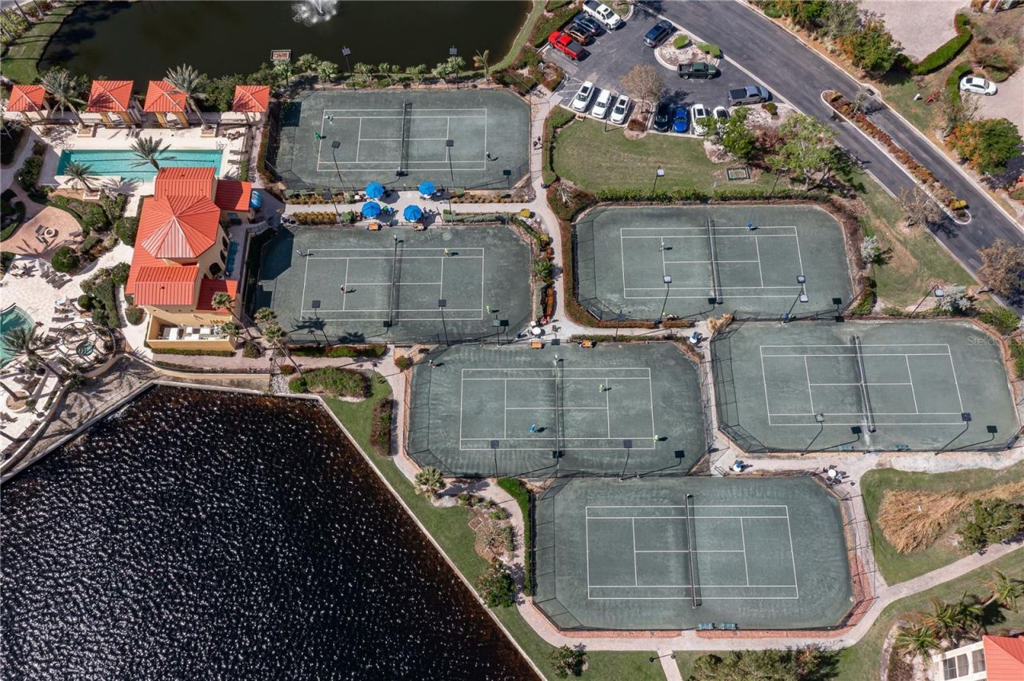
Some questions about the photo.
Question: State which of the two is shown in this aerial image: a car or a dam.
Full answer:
Looking from above, you can make out a car.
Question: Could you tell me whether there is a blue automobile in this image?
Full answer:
Yes, there's a blue automobile down there.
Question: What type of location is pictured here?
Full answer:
The picture captures a sports ground.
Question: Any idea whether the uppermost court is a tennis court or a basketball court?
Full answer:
The uppermost court is a tennis court.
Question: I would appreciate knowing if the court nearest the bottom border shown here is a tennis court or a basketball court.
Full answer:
The court nearest the bottom border can be classified as a tennis court.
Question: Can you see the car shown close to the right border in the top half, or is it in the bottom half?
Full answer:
It is in the top half that the car shown close to the right border appears.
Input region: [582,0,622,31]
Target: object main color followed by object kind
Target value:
white truck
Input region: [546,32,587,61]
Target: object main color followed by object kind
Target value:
red truck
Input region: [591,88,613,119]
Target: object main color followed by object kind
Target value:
white car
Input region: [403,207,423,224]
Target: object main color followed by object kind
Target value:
blue umbrella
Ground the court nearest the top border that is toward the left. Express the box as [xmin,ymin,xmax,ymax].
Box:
[274,87,532,190]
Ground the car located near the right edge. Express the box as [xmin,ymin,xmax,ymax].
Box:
[960,76,997,97]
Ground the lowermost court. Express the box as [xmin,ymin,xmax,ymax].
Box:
[532,477,853,630]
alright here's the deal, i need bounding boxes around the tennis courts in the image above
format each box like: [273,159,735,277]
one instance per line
[406,342,708,479]
[532,477,853,630]
[710,320,1021,454]
[274,87,532,190]
[574,204,855,321]
[254,224,531,344]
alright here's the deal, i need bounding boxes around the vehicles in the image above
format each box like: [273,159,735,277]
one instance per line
[653,103,669,135]
[546,32,587,61]
[642,21,675,47]
[960,76,997,97]
[561,23,594,46]
[725,86,771,106]
[691,104,709,136]
[572,81,593,112]
[582,0,622,31]
[673,105,689,134]
[571,14,606,37]
[675,61,719,79]
[591,88,613,119]
[609,94,630,126]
